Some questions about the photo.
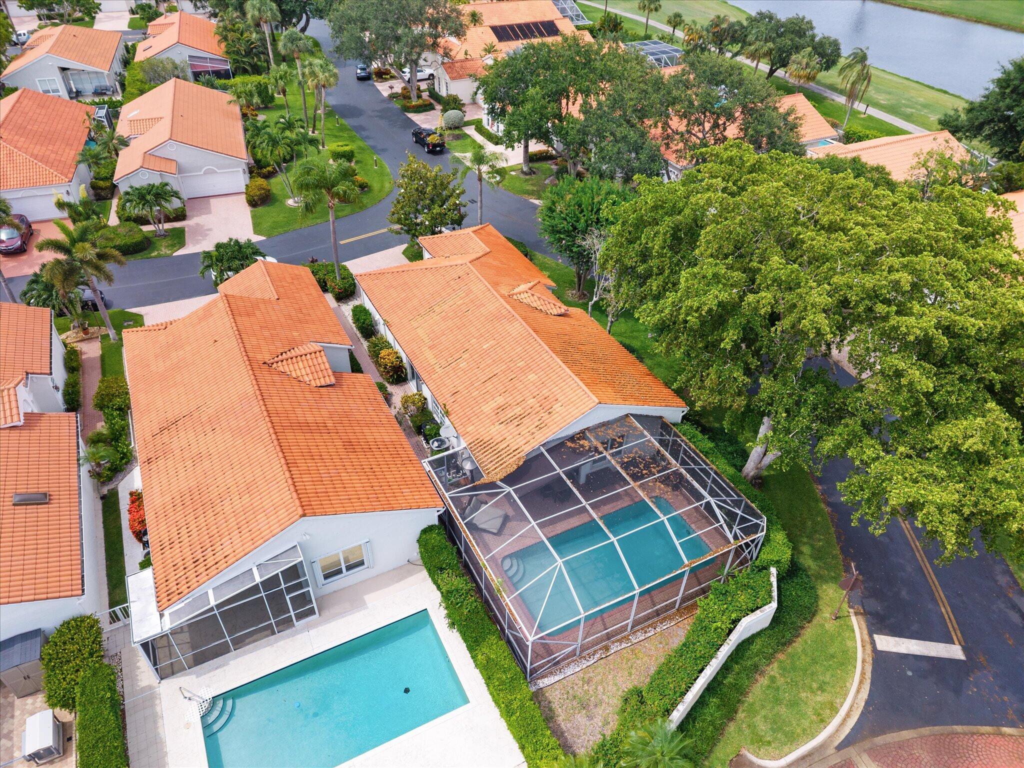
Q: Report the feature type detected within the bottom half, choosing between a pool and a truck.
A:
pool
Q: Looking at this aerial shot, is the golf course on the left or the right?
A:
right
